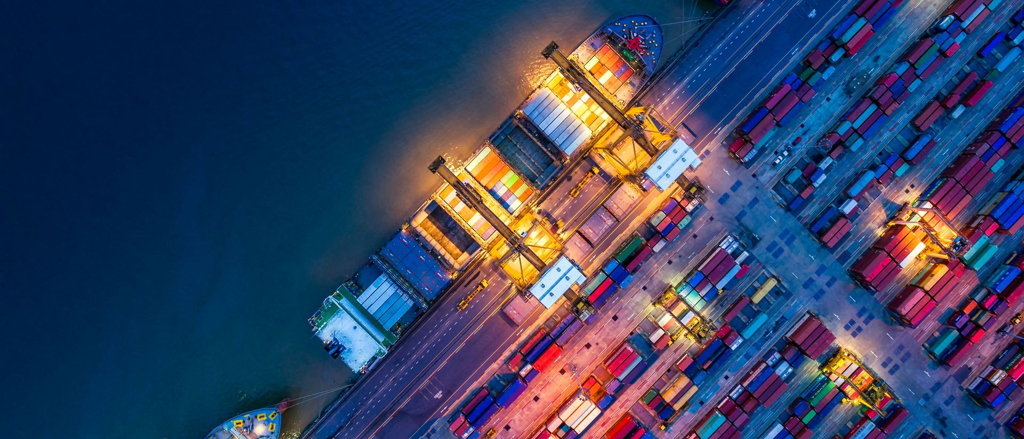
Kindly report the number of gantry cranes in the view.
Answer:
five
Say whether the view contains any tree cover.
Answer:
No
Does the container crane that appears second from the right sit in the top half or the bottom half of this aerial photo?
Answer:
bottom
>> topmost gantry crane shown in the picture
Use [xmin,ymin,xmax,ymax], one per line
[541,34,720,208]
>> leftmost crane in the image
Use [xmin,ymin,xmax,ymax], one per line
[424,152,604,327]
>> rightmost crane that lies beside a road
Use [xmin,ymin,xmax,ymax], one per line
[887,203,973,262]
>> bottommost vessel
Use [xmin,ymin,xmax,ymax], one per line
[205,398,292,439]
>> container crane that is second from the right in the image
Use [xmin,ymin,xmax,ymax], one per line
[823,349,900,414]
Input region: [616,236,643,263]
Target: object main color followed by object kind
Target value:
green shipping container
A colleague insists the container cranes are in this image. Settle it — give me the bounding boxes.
[424,152,604,327]
[541,34,720,208]
[823,349,900,414]
[653,289,720,349]
[887,203,973,262]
